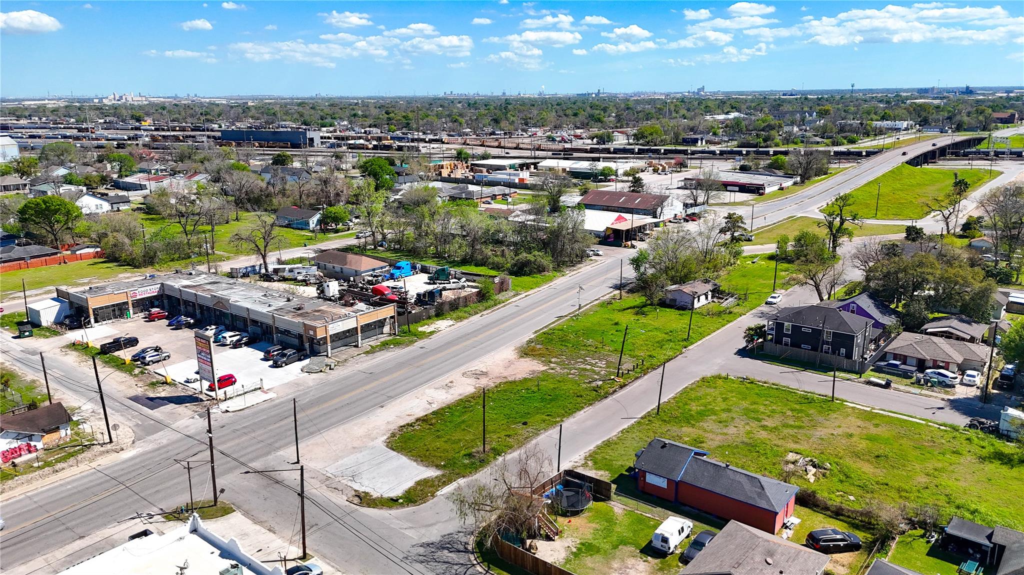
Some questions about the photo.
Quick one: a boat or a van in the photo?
van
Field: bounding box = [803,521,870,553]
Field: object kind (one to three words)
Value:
car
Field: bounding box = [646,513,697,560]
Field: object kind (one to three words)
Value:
van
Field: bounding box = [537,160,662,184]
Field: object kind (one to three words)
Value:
building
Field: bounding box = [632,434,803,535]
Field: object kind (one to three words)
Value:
house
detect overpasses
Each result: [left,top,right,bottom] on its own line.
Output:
[854,133,1002,169]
